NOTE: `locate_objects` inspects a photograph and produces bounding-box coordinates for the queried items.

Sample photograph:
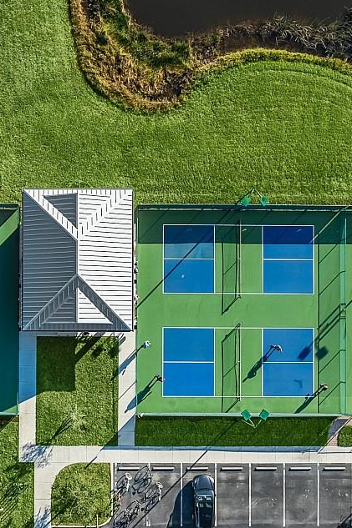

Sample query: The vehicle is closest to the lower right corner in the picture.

[191,475,217,528]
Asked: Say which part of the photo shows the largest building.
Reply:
left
